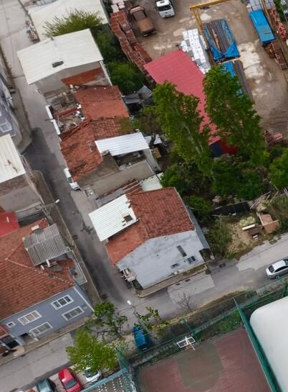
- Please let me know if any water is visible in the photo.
No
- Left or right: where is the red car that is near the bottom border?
left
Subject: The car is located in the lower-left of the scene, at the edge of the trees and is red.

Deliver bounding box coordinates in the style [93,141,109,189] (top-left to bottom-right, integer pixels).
[57,366,83,392]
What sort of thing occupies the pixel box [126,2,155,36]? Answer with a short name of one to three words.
truck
